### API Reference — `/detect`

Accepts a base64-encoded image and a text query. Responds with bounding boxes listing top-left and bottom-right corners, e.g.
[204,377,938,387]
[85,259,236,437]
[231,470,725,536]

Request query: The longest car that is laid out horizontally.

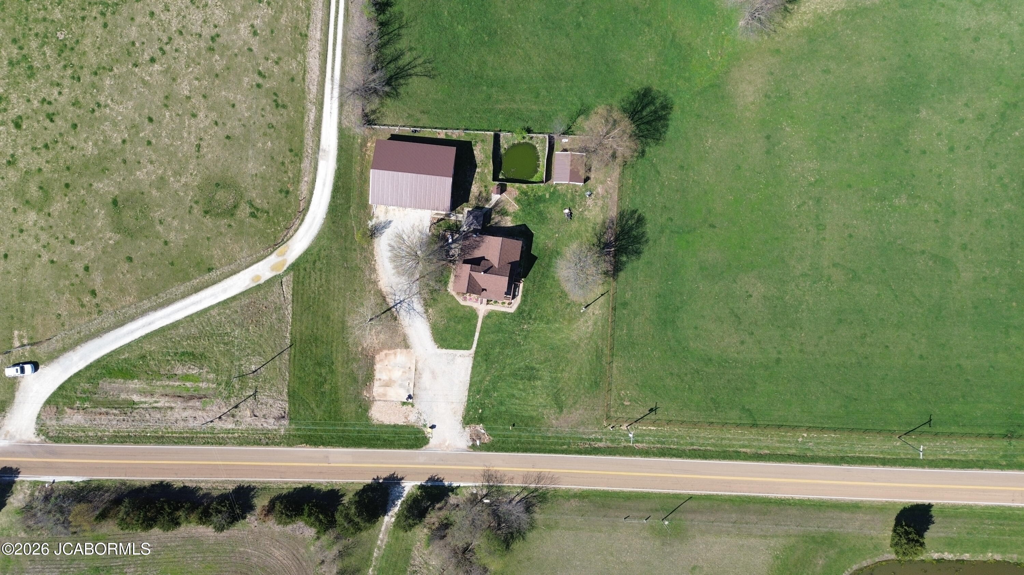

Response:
[5,363,38,377]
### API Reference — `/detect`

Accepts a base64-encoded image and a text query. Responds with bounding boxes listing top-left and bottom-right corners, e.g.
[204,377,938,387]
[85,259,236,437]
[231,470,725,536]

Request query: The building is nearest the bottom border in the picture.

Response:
[453,232,522,303]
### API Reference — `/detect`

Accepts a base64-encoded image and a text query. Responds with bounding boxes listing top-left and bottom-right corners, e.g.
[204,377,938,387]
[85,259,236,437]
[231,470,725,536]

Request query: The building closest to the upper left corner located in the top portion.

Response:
[370,139,457,212]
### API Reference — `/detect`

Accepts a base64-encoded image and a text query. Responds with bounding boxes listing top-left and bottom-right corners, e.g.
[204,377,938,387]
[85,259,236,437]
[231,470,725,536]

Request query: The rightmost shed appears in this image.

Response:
[553,151,586,185]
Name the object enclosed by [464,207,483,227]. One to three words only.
gazebo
